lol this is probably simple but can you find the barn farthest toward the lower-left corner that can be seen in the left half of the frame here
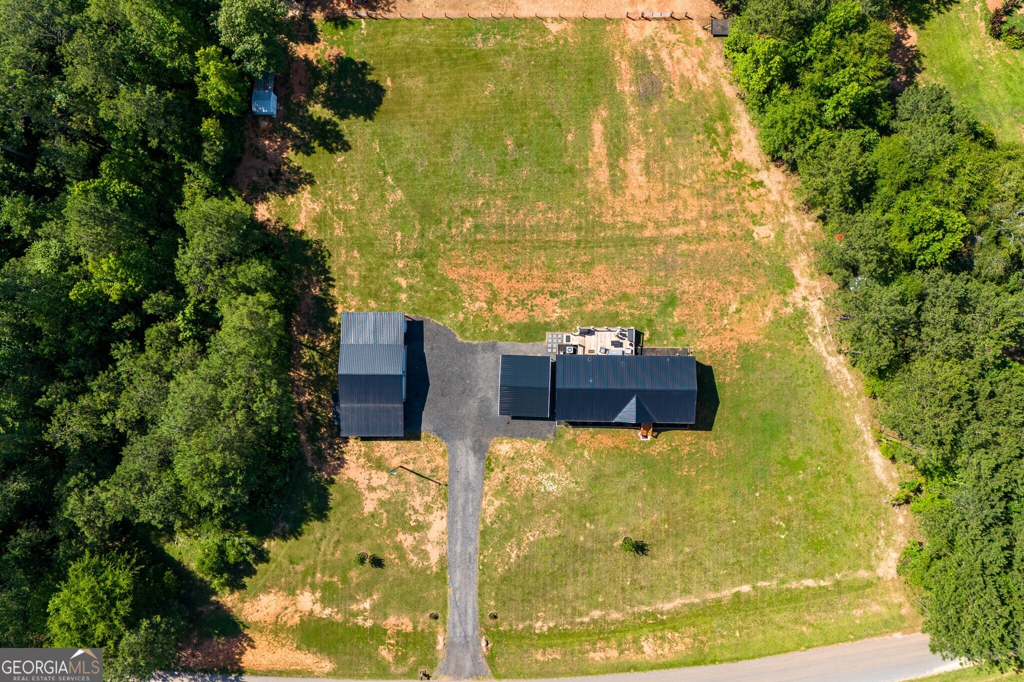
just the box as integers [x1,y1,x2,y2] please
[338,312,406,436]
